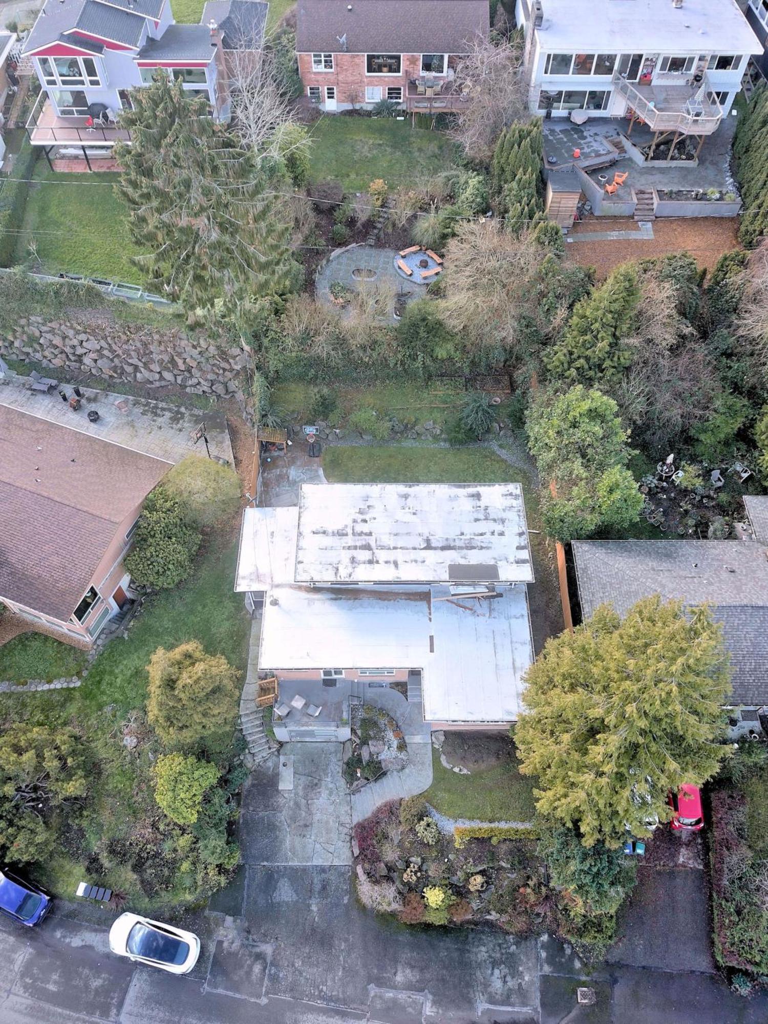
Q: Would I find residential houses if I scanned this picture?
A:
Yes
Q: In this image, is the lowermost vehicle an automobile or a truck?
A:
automobile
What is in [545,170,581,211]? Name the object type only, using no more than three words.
shed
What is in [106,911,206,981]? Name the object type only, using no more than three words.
car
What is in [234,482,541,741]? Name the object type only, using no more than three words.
house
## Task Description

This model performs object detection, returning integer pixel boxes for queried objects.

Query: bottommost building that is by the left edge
[0,409,175,638]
